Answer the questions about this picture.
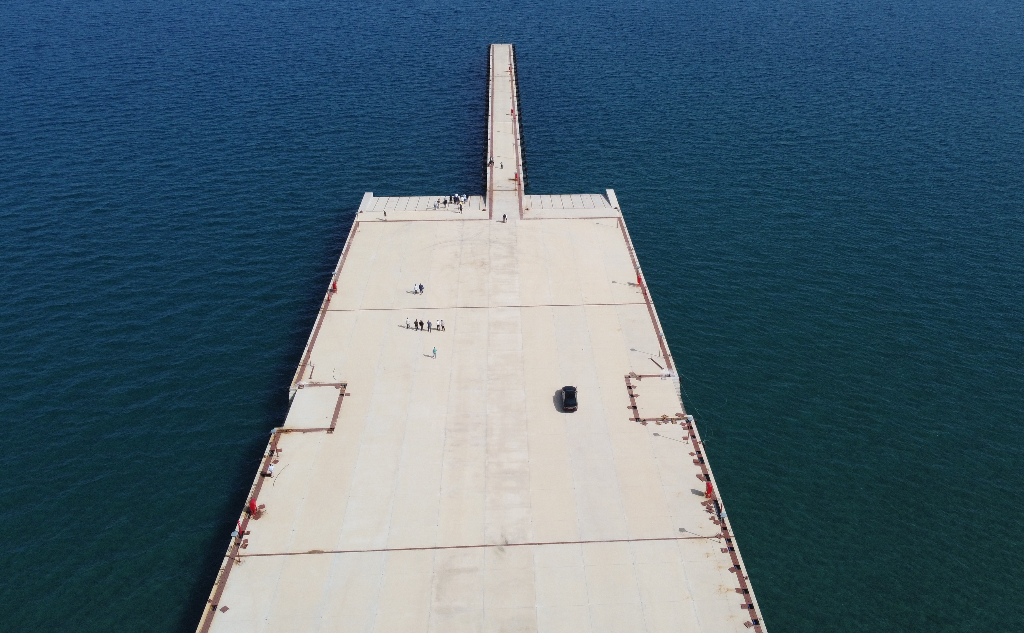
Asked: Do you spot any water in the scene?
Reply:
Yes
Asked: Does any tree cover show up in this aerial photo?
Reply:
No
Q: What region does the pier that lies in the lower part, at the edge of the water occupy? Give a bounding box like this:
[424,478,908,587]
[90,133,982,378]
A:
[196,208,767,633]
